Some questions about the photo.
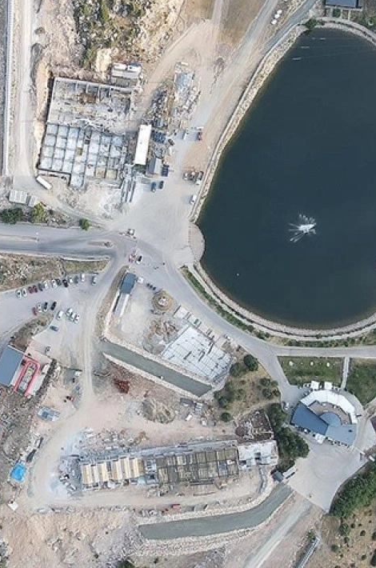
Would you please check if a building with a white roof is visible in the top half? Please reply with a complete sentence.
Yes, you'll find a building with a white roof in the top half.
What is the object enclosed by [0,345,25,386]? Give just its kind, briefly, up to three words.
house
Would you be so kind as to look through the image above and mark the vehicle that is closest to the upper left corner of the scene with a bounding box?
[36,175,52,190]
